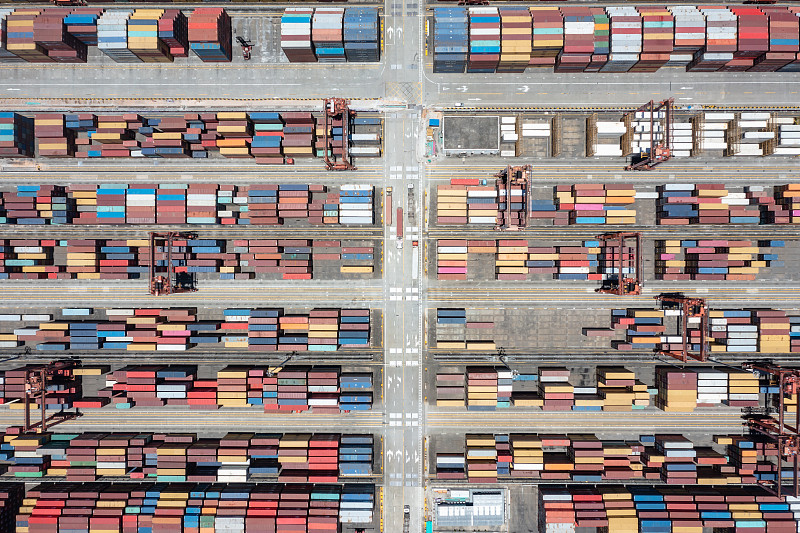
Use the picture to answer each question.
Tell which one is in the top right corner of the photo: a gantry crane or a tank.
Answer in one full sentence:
The feature located in the top right corner of the photo is a gantry crane.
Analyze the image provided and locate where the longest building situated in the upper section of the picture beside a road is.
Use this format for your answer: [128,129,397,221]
[420,116,511,155]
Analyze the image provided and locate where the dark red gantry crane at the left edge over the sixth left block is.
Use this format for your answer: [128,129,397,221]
[21,360,84,435]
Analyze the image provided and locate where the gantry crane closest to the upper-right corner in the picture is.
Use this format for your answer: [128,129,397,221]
[622,95,676,169]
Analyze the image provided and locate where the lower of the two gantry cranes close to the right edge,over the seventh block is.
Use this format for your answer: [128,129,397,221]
[738,421,800,503]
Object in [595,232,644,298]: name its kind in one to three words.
container crane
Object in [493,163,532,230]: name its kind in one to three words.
container crane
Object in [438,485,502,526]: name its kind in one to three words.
building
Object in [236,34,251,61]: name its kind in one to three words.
work vehicle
